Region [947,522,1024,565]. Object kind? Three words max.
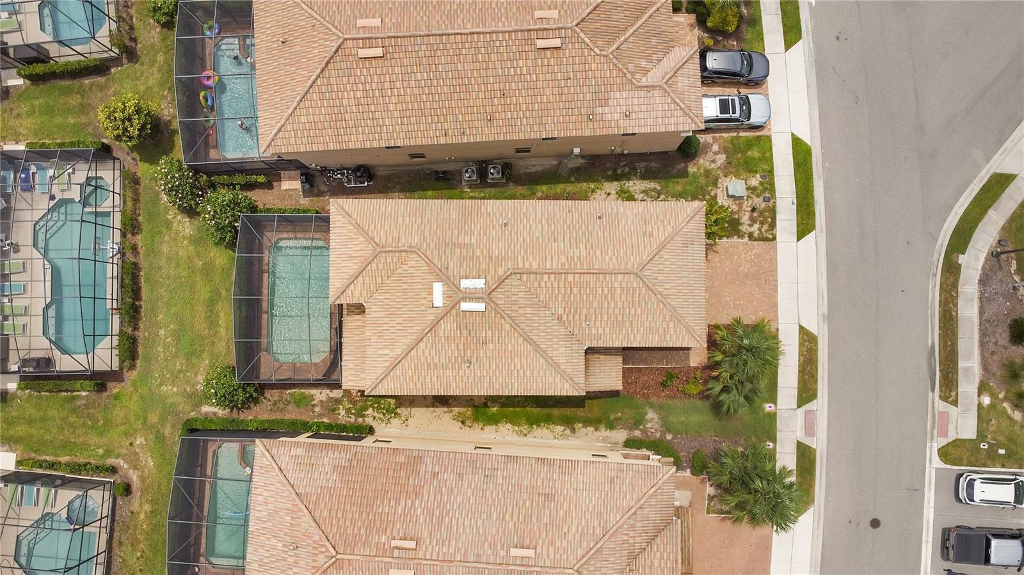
truck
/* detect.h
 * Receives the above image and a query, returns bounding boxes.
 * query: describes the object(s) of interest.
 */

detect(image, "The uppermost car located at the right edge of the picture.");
[954,467,1024,509]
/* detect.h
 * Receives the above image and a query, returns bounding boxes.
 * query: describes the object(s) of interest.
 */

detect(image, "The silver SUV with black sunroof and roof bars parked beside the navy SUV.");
[705,90,770,131]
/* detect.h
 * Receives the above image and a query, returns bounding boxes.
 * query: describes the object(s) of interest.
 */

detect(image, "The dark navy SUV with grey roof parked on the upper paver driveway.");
[700,45,768,86]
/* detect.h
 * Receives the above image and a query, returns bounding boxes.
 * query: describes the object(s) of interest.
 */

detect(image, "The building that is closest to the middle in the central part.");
[327,198,709,397]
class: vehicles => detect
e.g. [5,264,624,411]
[947,522,1024,565]
[705,90,770,131]
[700,45,768,86]
[954,467,1024,509]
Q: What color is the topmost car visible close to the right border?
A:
white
